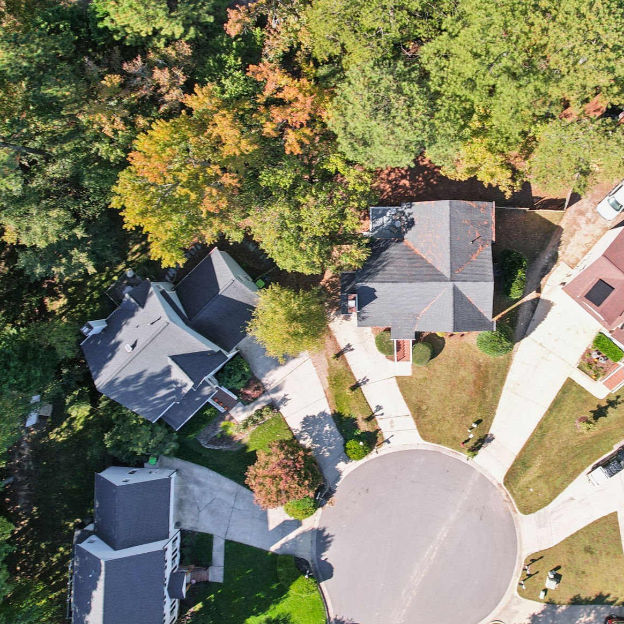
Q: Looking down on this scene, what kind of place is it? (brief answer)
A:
residential area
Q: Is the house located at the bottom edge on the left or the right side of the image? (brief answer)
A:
left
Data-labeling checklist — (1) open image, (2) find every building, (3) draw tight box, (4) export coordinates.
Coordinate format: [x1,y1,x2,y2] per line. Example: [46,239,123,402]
[71,469,209,624]
[26,404,60,426]
[554,225,624,395]
[80,247,269,432]
[341,199,497,363]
